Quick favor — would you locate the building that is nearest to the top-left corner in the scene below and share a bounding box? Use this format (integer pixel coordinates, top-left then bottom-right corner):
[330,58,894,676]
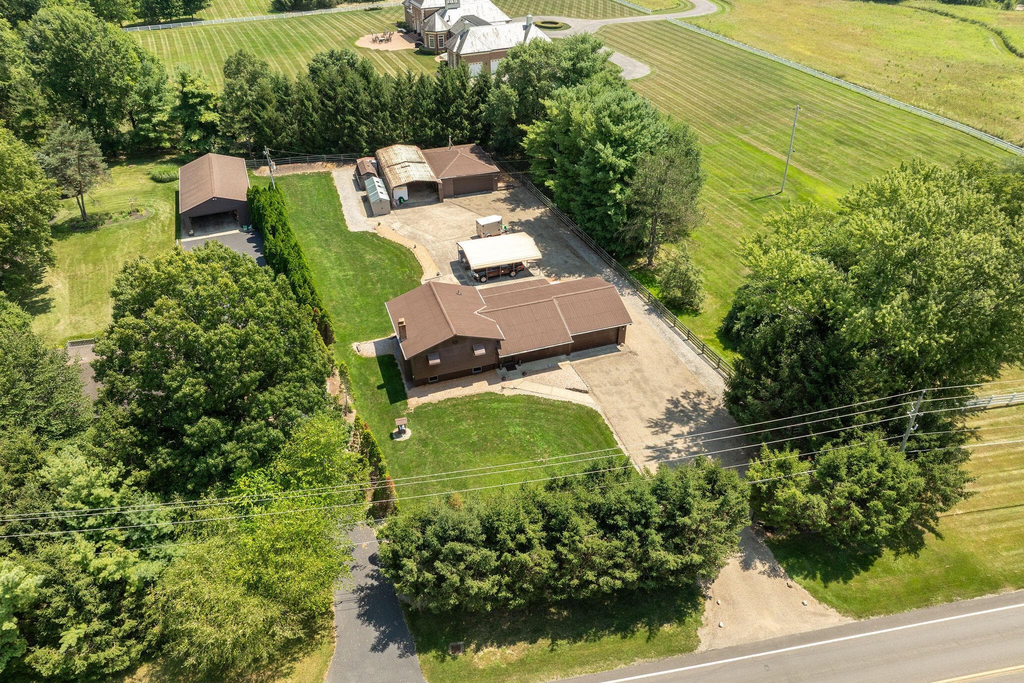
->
[172,155,247,237]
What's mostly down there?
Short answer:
trees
